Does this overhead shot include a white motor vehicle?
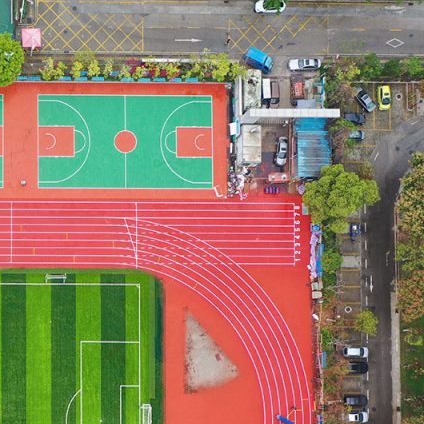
Yes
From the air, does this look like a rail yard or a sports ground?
sports ground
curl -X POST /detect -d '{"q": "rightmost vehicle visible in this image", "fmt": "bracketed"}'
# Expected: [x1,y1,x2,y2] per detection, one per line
[378,81,396,111]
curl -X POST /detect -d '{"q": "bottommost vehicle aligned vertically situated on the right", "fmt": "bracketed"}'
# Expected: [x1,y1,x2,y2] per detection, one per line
[275,134,291,166]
